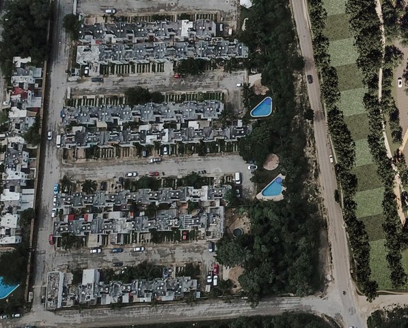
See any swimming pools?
Yes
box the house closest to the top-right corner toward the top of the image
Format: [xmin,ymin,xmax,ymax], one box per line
[225,43,249,61]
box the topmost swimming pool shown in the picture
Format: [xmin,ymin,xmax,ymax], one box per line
[250,97,272,118]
